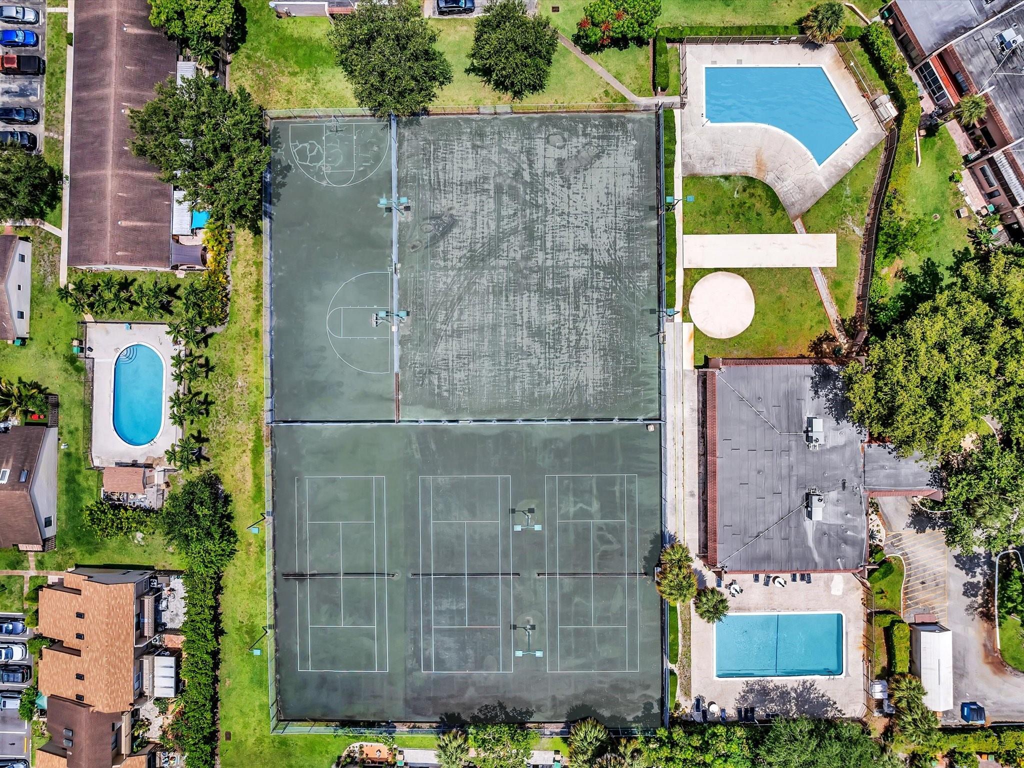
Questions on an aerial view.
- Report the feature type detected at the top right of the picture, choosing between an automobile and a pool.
pool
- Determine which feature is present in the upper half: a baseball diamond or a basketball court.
basketball court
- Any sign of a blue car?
Yes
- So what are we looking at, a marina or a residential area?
residential area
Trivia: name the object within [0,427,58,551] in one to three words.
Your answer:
house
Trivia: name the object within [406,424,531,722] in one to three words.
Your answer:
tennis court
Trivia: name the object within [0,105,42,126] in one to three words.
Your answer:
car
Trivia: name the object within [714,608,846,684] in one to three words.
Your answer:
swimming pool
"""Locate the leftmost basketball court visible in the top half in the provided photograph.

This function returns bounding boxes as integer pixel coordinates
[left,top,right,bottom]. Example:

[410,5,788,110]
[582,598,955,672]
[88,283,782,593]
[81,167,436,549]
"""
[271,115,398,421]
